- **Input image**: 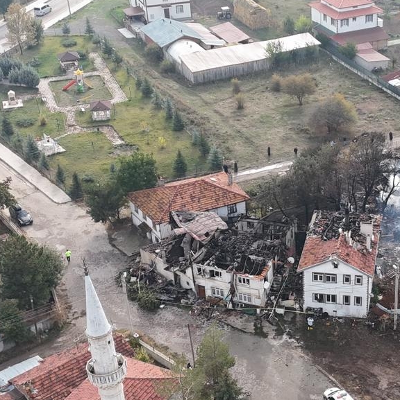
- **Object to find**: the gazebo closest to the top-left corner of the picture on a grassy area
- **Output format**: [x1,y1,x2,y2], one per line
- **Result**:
[54,50,80,72]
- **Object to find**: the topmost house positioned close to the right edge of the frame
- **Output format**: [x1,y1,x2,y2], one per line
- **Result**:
[306,0,387,49]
